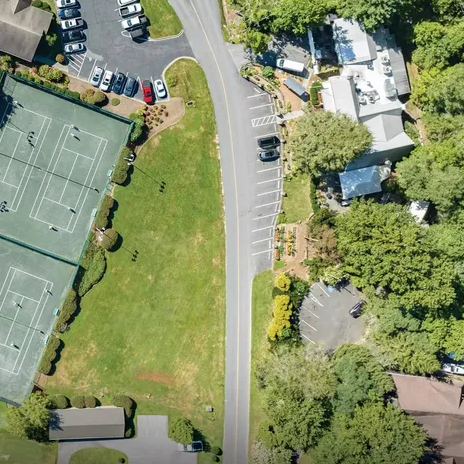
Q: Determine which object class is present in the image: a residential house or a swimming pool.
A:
residential house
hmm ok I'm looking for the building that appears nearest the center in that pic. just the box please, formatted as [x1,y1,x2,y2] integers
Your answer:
[334,166,382,198]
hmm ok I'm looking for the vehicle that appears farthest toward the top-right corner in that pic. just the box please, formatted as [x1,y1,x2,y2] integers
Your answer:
[276,59,307,73]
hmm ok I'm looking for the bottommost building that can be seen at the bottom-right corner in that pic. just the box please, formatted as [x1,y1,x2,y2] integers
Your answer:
[406,412,464,464]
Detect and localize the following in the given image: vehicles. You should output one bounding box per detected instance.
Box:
[257,136,278,146]
[60,17,84,30]
[117,0,135,6]
[91,67,103,86]
[346,302,364,317]
[154,79,166,99]
[118,3,142,18]
[175,439,200,451]
[141,80,153,104]
[258,150,279,160]
[125,27,149,41]
[56,0,76,9]
[64,43,83,53]
[122,15,147,29]
[112,73,124,93]
[276,59,307,73]
[100,70,112,90]
[442,362,464,374]
[124,77,136,97]
[61,30,85,43]
[59,9,79,19]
